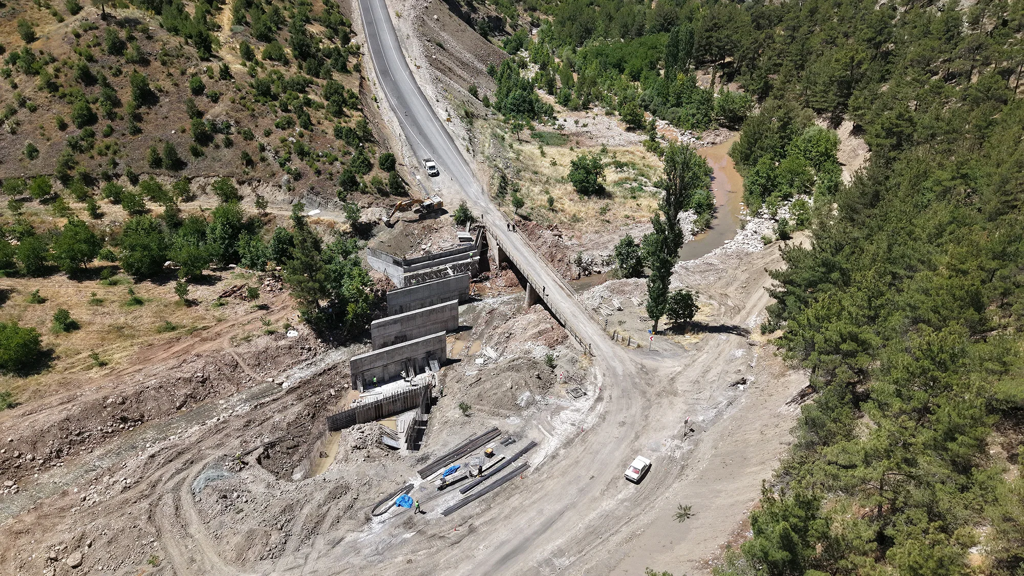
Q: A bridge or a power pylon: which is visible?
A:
bridge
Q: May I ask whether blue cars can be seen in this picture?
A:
No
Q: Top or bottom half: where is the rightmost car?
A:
bottom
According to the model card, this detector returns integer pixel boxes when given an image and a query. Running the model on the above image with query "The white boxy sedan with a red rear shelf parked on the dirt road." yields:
[623,450,653,481]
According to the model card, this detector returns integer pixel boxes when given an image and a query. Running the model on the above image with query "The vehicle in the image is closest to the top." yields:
[422,160,439,175]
